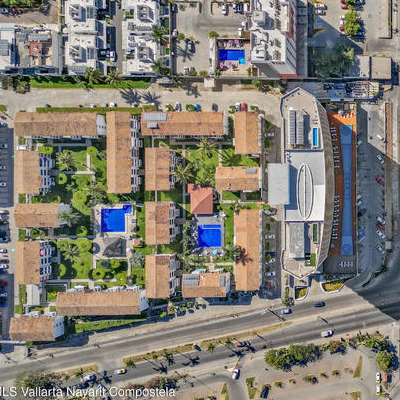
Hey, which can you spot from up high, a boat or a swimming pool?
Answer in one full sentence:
I can see a swimming pool in this picture.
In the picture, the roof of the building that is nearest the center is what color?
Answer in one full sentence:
The color of the roof on the building that is nearest the center is red.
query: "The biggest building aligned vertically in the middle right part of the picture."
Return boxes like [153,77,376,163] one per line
[268,87,335,281]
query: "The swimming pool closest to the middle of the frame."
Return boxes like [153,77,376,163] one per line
[197,225,222,248]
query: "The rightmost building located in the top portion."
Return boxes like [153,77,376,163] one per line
[371,58,391,82]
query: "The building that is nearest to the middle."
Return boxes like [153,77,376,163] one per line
[188,184,214,215]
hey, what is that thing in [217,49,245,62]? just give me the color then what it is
blue swimming pool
